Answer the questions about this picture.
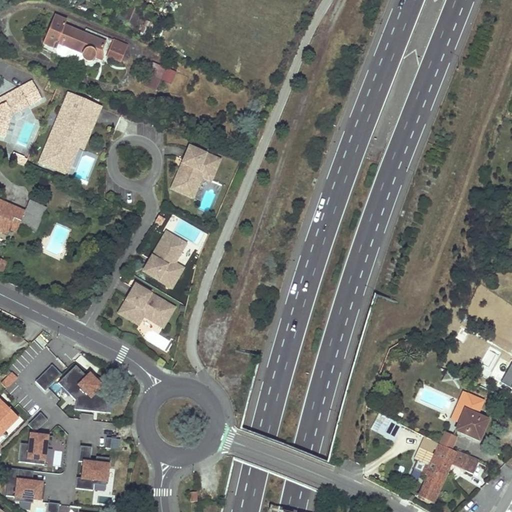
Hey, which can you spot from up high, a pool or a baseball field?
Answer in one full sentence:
Looking from above, you can make out a pool.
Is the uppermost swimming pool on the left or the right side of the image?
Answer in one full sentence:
The uppermost swimming pool is on the left side of the image.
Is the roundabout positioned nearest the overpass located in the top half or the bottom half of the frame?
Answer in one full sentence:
The roundabout positioned nearest the overpass is in the bottom half of the image.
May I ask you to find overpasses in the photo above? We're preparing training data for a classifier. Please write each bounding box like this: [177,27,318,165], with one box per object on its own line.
[232,426,338,490]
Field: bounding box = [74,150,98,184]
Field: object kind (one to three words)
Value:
swimming pool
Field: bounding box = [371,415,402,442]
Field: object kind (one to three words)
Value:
building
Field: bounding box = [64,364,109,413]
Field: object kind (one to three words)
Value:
house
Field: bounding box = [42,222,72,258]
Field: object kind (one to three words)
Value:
swimming pool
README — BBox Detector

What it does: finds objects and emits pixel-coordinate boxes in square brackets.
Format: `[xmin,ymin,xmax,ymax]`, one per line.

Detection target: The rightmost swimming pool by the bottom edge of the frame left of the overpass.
[92,468,115,506]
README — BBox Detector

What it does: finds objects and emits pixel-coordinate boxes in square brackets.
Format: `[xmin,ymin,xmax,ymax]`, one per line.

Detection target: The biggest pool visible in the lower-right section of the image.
[415,384,458,422]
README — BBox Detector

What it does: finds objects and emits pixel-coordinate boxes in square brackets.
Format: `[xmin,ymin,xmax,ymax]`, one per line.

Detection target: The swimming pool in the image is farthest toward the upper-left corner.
[6,109,40,158]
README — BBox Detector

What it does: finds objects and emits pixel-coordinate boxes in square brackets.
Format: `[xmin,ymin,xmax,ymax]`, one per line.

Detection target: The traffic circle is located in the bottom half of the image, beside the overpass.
[126,355,237,473]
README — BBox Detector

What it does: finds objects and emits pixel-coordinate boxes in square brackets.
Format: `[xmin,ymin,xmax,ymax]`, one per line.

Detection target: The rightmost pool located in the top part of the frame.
[193,181,222,210]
